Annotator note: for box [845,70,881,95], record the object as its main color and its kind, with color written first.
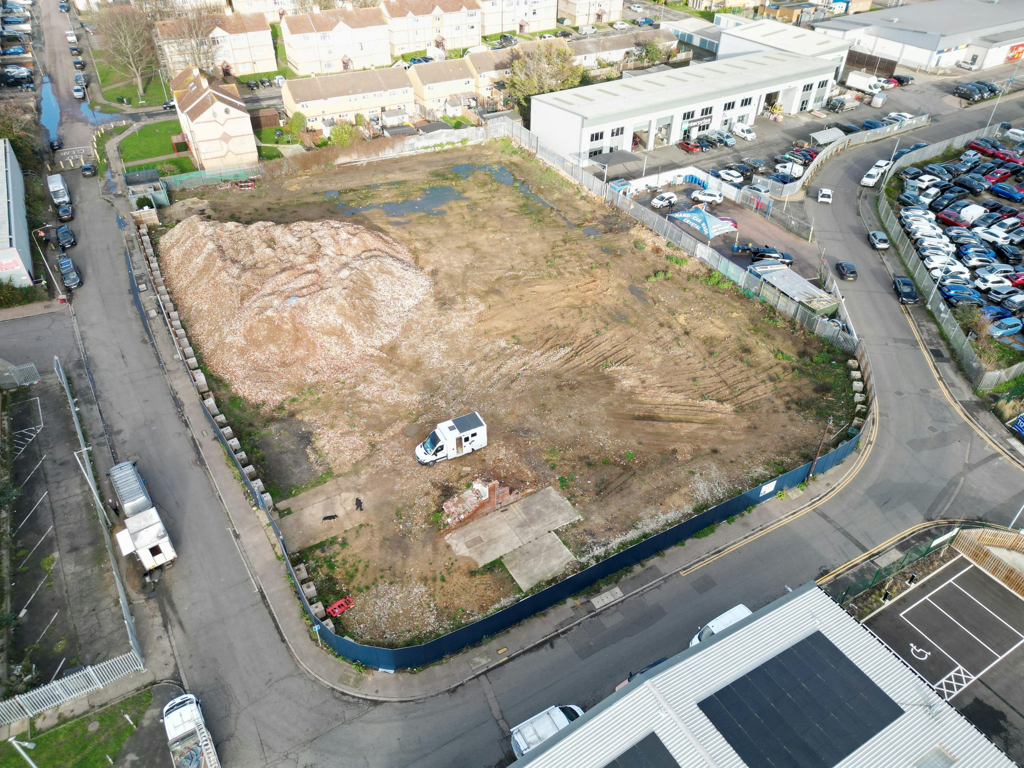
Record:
white vehicle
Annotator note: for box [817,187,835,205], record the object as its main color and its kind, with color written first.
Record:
white car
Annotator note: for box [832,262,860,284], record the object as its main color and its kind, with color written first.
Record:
gray car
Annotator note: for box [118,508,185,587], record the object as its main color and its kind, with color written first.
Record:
white trailer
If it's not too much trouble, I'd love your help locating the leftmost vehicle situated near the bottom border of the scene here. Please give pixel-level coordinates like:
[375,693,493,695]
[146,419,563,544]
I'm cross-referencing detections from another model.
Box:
[162,690,221,768]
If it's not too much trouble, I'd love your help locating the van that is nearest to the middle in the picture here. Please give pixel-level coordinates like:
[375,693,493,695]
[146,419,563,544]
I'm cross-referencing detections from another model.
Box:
[418,411,487,468]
